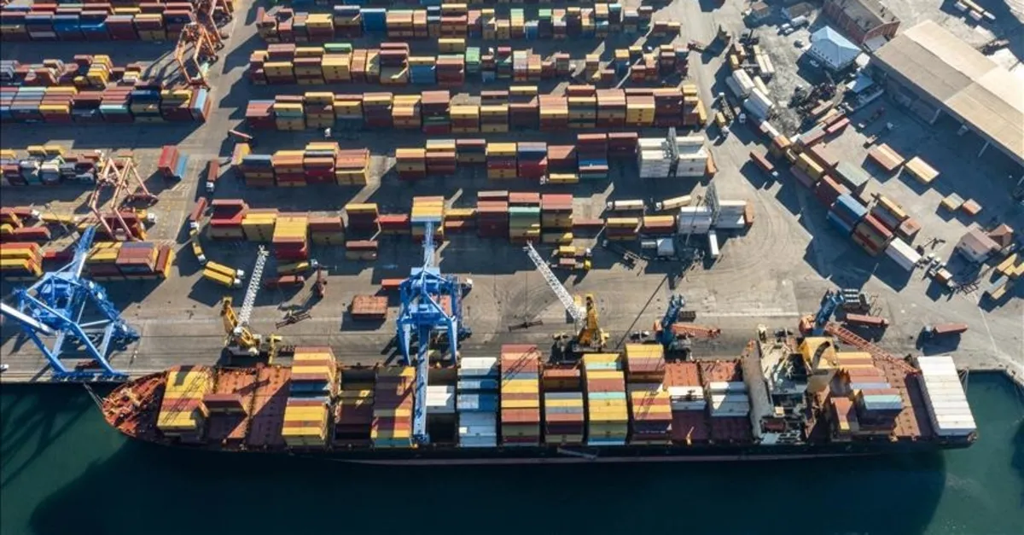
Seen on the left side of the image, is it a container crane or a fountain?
container crane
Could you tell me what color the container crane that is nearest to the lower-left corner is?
blue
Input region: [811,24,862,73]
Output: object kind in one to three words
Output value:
house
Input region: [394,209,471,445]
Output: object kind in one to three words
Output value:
container crane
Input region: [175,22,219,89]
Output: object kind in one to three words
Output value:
container crane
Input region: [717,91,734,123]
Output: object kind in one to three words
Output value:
vehicle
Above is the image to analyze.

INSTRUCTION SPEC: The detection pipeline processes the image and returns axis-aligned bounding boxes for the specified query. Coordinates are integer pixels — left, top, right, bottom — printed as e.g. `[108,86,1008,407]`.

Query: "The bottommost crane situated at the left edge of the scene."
[0,213,139,373]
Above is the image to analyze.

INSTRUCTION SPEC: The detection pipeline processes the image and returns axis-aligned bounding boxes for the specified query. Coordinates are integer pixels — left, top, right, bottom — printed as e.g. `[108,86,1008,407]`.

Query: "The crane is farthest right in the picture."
[797,288,916,375]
